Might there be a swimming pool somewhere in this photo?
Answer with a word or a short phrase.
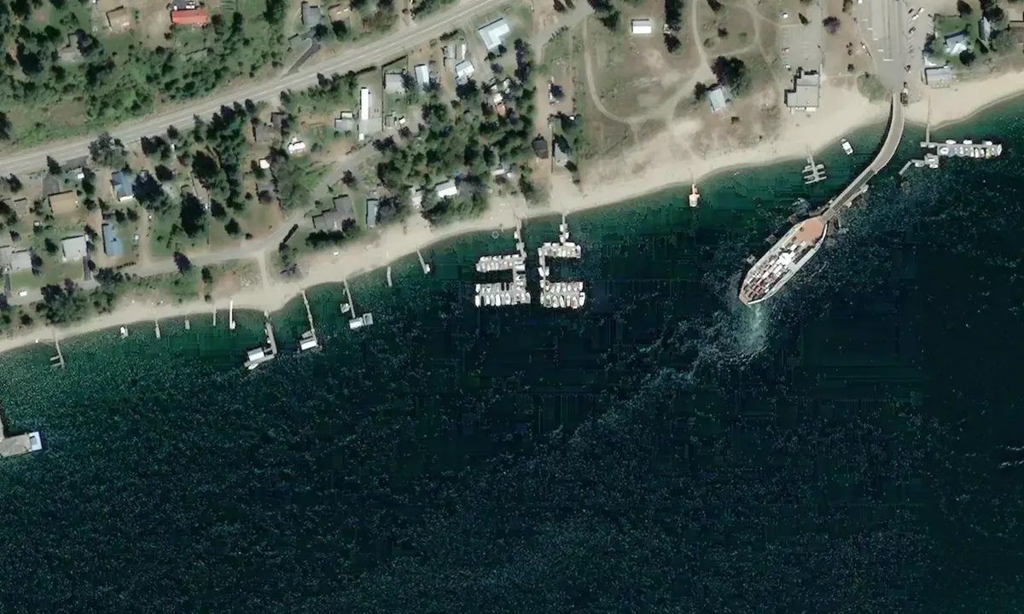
No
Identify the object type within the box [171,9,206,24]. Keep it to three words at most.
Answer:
house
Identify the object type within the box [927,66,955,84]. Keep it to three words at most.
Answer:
building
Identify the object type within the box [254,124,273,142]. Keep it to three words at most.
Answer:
house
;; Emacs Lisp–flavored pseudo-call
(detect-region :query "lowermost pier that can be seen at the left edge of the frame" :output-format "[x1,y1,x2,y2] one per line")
[0,417,31,457]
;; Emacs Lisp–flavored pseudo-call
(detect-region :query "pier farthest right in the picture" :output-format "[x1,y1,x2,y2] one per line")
[920,100,1001,156]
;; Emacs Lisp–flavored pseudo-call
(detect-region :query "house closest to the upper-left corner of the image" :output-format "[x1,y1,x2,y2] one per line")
[59,39,83,61]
